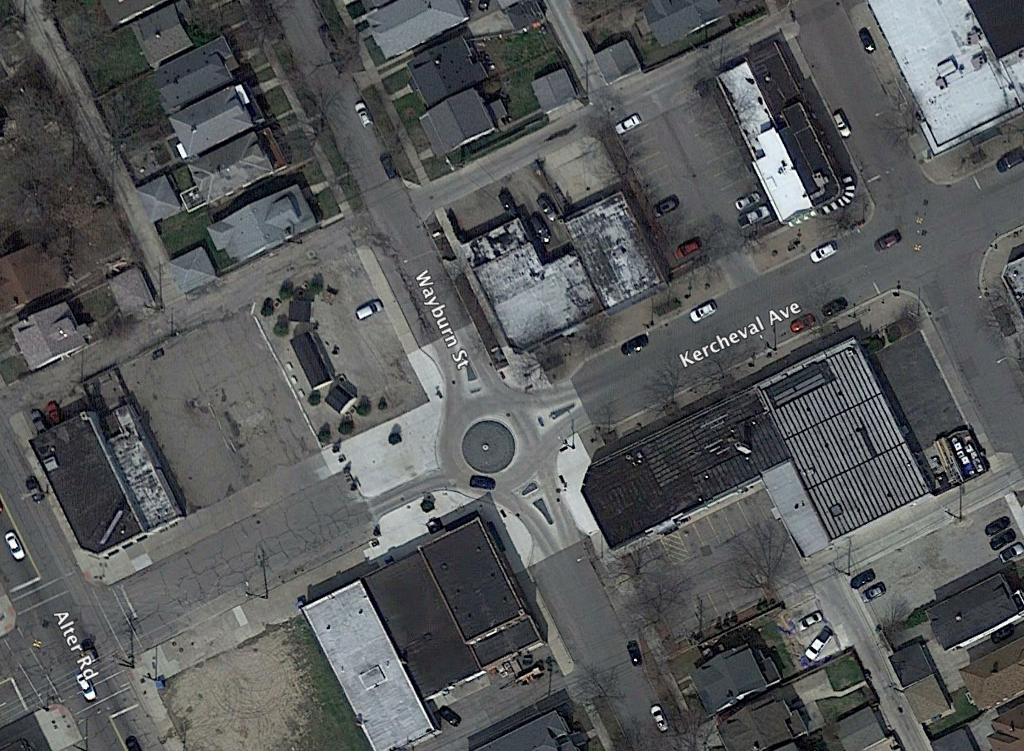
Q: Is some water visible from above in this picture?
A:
No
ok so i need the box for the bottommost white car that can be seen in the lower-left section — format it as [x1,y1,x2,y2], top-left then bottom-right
[79,675,96,700]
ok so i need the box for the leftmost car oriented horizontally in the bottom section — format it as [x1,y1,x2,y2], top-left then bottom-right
[470,476,496,489]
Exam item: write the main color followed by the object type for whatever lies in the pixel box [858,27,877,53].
black car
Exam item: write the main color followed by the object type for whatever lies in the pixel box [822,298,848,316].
black car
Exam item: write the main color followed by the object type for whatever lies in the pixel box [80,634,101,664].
black truck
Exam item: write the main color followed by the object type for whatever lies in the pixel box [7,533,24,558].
white car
